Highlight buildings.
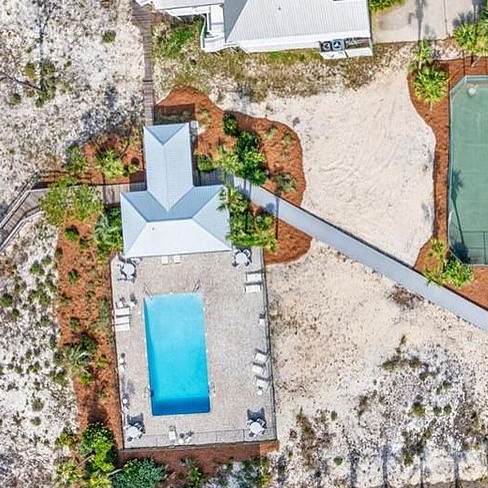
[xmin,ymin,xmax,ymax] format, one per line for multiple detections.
[120,123,235,258]
[137,0,373,55]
